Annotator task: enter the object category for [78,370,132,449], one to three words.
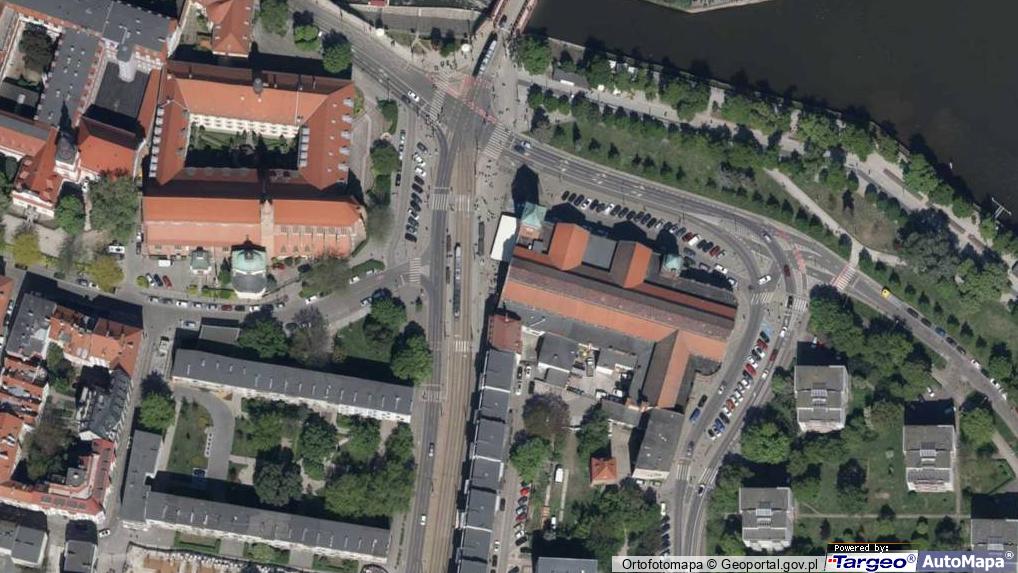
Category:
house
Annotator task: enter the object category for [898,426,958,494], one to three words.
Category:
building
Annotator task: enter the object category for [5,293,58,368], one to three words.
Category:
house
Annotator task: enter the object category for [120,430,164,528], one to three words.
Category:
building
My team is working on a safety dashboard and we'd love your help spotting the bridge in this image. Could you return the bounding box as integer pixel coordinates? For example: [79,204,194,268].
[491,0,538,41]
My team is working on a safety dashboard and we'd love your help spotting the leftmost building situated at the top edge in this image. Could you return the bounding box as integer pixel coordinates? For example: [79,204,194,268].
[0,0,191,127]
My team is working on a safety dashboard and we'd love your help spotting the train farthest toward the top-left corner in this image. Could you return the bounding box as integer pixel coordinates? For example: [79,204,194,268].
[478,40,496,78]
